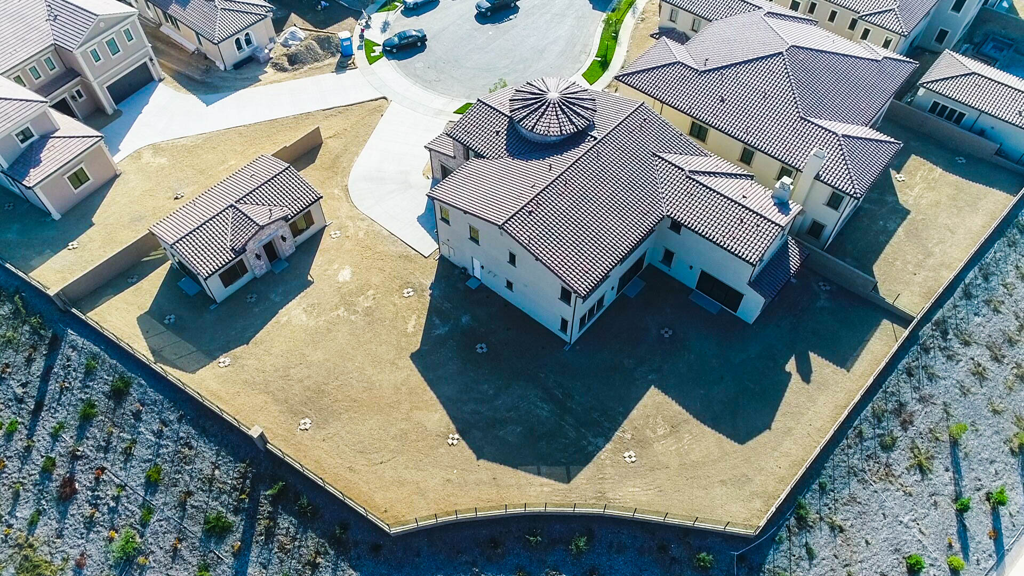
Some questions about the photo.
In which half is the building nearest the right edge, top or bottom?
top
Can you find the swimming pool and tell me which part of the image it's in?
top right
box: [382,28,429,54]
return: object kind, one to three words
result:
car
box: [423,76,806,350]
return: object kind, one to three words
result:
house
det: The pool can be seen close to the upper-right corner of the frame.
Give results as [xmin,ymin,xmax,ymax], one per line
[950,24,1024,79]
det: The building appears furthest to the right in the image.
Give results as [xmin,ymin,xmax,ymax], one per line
[910,48,1024,163]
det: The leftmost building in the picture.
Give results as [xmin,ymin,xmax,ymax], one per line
[0,0,164,221]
